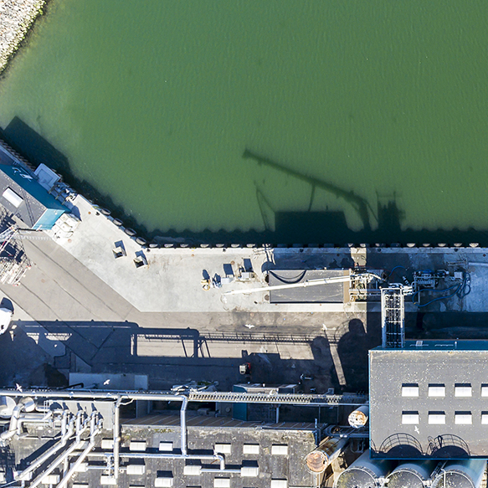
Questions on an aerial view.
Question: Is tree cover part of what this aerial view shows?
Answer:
No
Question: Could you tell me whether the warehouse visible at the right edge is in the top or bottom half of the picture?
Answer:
bottom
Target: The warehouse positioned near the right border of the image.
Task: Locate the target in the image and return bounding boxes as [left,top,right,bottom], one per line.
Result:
[369,339,488,459]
